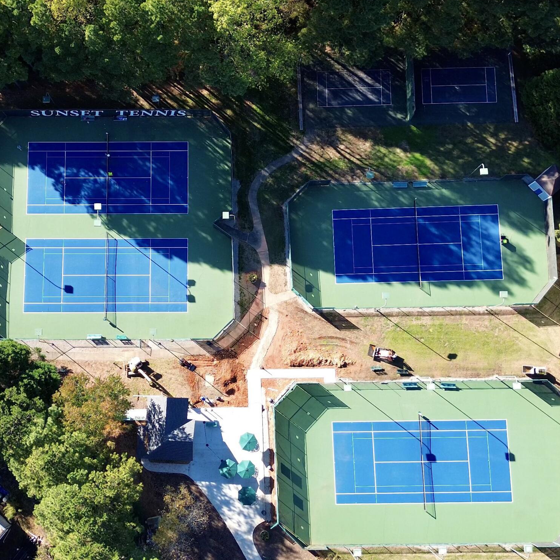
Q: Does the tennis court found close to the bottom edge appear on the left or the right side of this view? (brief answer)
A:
right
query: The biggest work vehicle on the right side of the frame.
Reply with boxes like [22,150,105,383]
[368,345,398,365]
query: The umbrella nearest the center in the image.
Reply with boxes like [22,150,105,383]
[240,432,258,451]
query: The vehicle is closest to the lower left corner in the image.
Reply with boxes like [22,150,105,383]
[120,363,154,396]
